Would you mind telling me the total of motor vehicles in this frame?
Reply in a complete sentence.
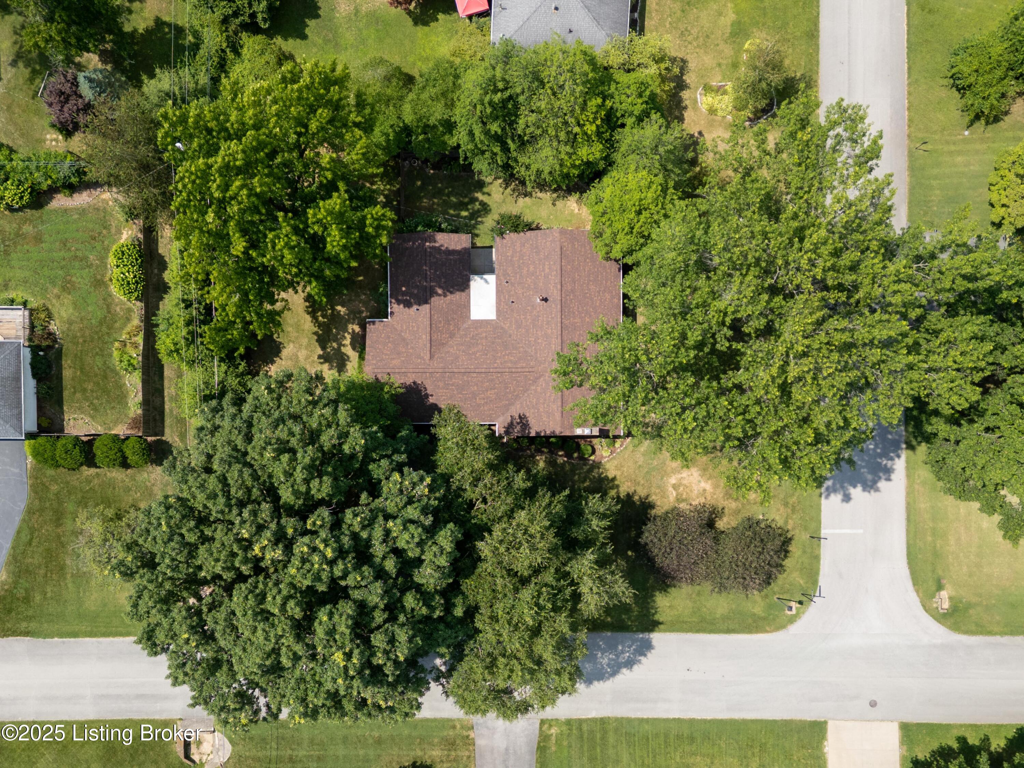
There are no motor vehicles in the image.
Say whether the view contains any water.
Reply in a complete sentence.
No, no water is visible.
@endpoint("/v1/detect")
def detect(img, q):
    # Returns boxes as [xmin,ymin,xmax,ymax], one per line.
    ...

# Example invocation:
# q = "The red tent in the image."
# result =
[456,0,490,27]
